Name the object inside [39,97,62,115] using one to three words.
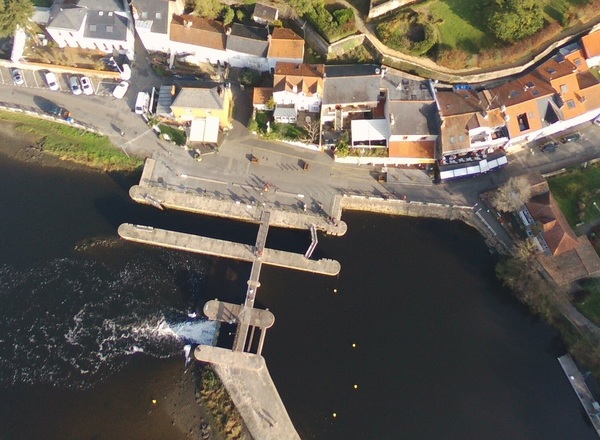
car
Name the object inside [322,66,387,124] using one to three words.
house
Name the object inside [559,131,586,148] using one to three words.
car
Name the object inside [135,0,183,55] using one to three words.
house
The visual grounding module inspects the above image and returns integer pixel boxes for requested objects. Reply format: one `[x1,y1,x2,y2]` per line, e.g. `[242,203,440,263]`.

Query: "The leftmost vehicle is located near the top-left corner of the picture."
[8,65,25,84]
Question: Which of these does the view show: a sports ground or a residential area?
residential area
